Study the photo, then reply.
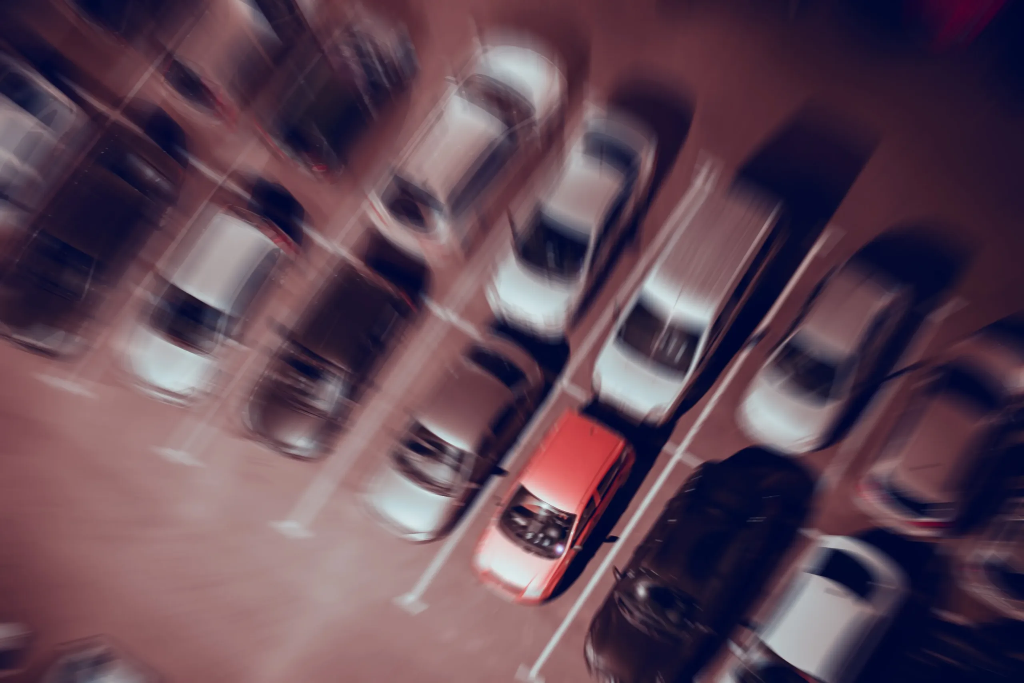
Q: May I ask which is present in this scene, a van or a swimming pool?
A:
van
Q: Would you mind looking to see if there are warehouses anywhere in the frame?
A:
No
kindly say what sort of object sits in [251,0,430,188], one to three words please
car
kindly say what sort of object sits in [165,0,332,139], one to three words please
car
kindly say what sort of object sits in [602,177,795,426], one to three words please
van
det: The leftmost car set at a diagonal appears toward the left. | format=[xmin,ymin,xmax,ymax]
[7,128,192,357]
